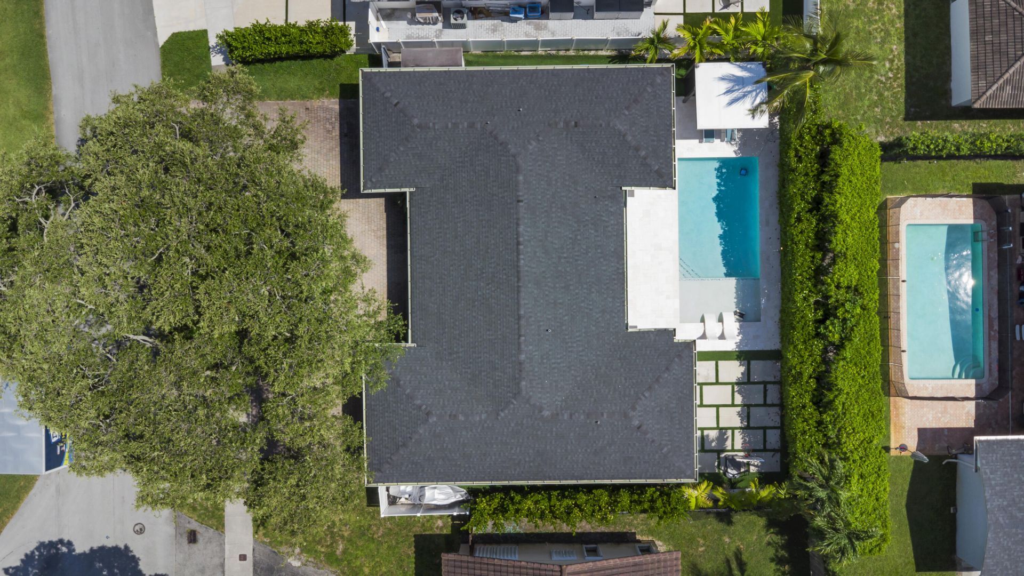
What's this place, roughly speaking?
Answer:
residential area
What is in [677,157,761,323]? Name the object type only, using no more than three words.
swimming pool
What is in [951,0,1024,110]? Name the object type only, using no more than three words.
house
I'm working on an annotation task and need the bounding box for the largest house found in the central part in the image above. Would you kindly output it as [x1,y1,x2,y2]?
[360,62,697,489]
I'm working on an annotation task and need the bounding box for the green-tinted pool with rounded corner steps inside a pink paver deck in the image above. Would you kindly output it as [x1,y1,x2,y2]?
[900,218,991,386]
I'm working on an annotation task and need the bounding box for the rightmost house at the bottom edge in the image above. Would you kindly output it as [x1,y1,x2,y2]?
[942,434,1024,576]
